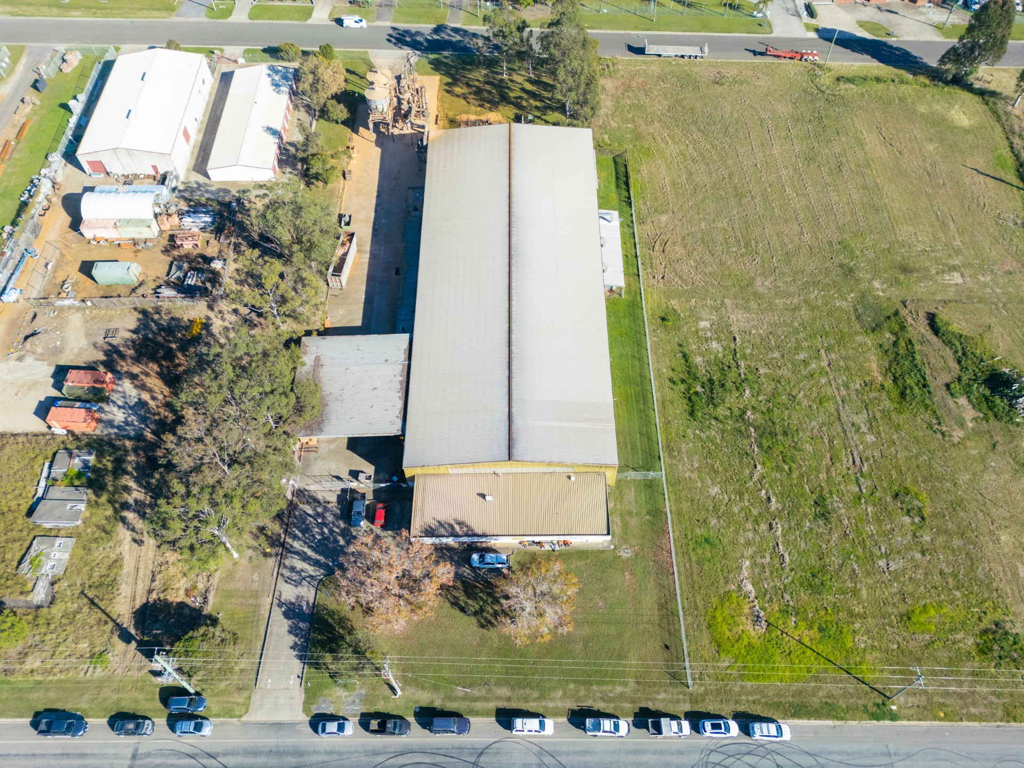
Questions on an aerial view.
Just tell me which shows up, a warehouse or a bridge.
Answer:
warehouse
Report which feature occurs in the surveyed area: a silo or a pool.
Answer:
silo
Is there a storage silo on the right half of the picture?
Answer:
No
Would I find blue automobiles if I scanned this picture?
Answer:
Yes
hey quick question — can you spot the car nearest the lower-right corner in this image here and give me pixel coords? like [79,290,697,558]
[748,719,791,740]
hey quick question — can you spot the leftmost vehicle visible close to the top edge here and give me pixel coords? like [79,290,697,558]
[341,15,367,29]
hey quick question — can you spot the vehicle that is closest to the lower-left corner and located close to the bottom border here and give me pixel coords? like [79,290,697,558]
[33,714,90,736]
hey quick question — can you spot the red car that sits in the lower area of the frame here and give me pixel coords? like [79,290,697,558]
[373,503,390,531]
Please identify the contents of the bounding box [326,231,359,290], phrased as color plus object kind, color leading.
white trailer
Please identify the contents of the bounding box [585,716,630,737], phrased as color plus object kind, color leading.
white truck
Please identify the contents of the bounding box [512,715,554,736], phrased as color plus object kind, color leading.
white truck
